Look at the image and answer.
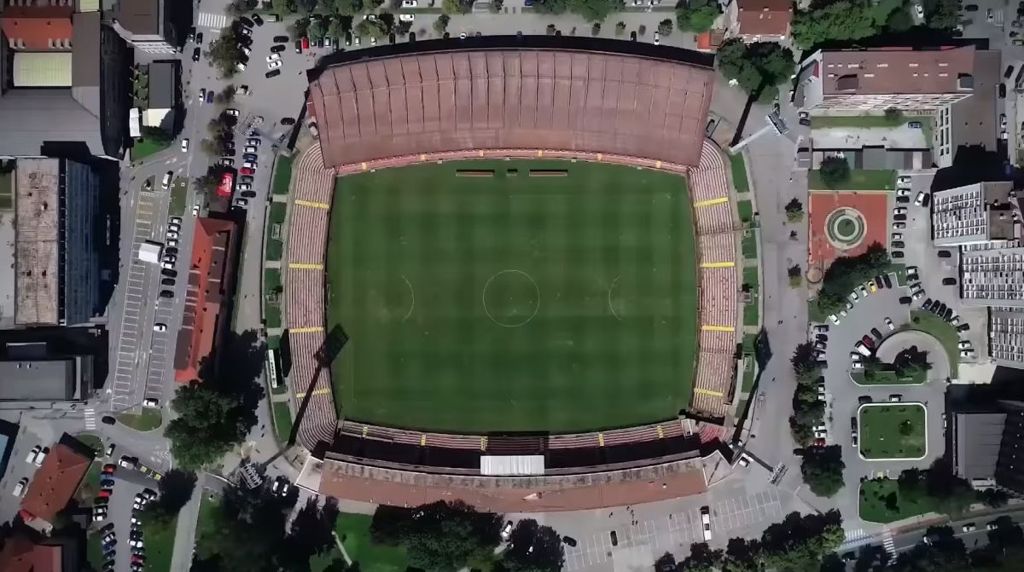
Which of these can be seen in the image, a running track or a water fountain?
water fountain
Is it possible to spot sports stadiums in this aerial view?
Yes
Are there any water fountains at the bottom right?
No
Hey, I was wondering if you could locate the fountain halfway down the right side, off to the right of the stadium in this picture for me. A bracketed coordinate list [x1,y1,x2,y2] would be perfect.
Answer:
[825,207,867,249]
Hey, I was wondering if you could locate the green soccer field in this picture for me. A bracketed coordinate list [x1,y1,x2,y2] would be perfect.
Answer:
[328,161,698,436]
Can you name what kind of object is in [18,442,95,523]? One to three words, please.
house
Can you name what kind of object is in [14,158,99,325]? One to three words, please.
building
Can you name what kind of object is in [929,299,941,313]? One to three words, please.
vehicle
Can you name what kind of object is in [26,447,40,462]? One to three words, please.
vehicle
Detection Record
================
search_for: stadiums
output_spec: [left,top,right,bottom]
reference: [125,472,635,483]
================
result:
[280,48,744,514]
